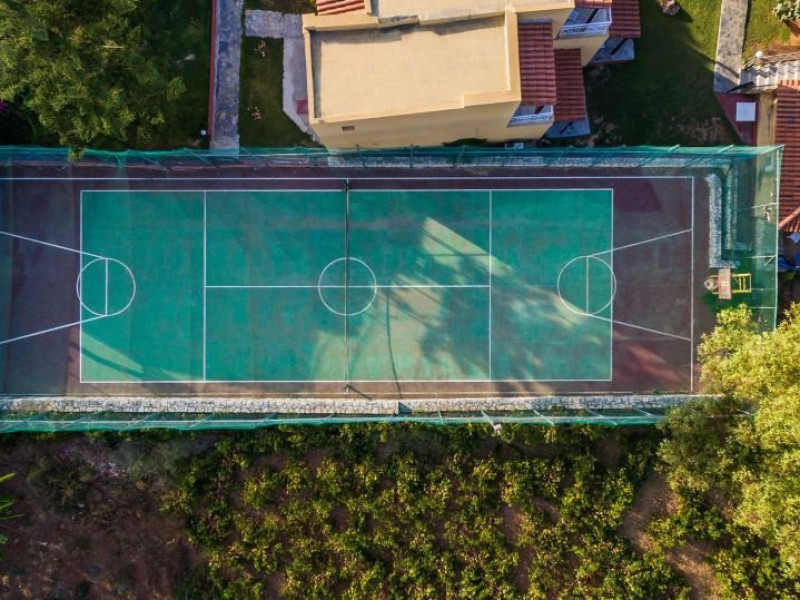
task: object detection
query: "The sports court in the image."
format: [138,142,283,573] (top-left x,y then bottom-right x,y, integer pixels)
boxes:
[0,168,737,398]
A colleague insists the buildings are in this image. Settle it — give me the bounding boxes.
[752,66,800,241]
[304,9,591,162]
